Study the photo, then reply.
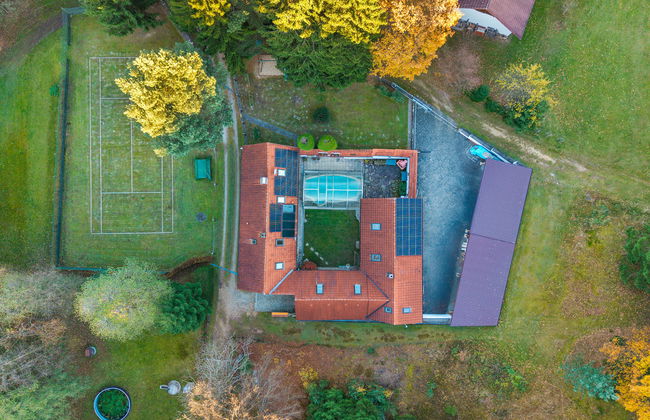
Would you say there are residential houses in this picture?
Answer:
Yes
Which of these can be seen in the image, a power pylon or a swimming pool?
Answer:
swimming pool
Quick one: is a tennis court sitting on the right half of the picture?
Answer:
No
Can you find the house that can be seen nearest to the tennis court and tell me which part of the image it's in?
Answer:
center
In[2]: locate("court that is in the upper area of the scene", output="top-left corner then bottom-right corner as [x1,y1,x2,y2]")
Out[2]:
[86,52,177,239]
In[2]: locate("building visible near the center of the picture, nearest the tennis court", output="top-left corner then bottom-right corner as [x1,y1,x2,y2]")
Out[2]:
[235,143,424,325]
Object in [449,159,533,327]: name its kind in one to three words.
shed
